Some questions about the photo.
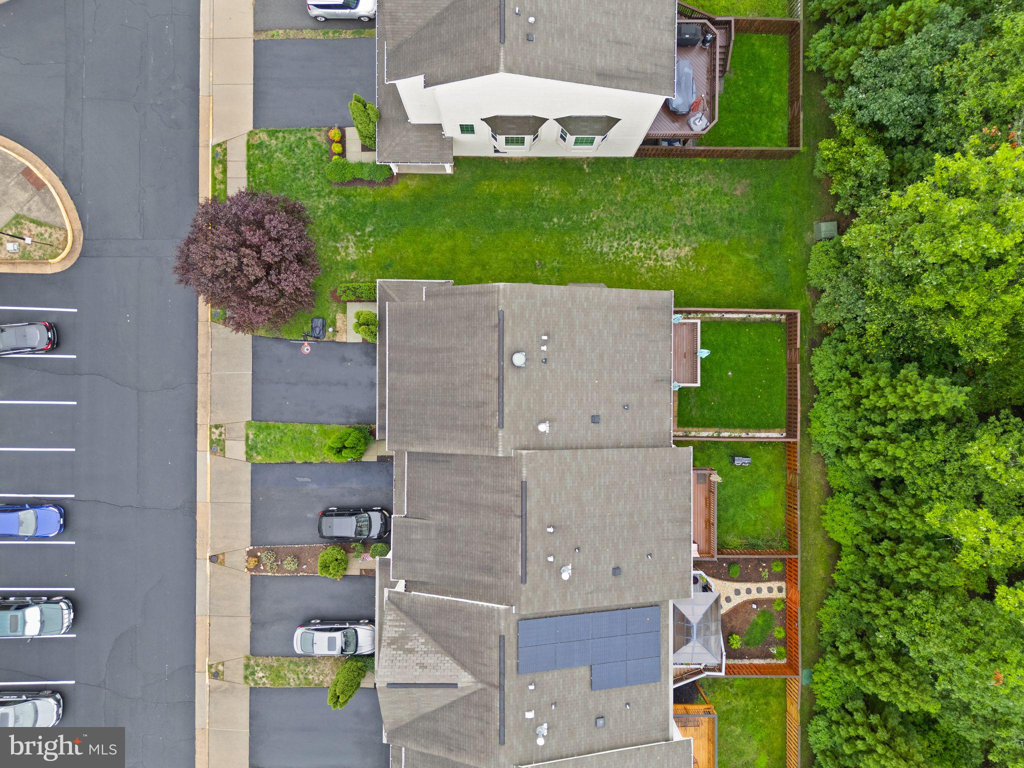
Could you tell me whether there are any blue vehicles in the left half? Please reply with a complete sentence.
Yes, there is a blue vehicle in the left half.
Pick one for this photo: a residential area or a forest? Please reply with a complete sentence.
The area seen from above is a residential area.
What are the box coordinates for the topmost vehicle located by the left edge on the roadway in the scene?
[0,321,57,355]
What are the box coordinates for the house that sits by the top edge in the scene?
[375,0,677,174]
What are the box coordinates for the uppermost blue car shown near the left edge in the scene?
[0,505,60,543]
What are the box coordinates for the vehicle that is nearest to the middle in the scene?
[311,507,390,547]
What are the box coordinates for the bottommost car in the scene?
[0,692,61,735]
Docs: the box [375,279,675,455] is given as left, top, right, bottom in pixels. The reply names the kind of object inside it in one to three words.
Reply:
house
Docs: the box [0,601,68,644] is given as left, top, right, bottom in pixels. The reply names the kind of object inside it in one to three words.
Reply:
car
